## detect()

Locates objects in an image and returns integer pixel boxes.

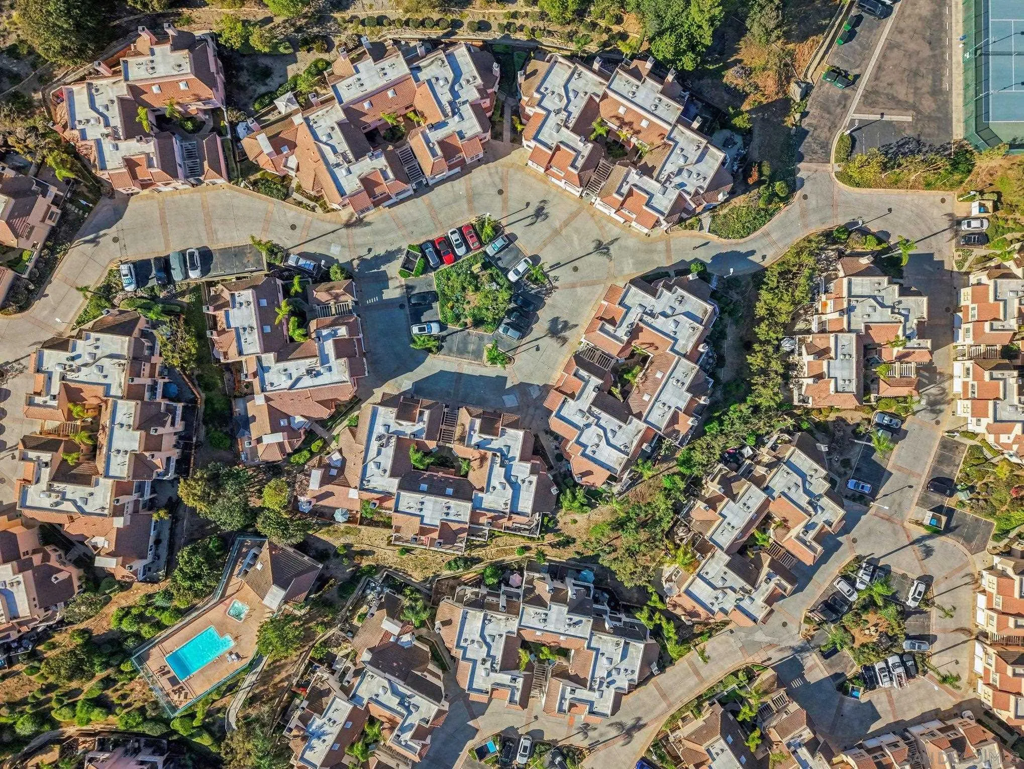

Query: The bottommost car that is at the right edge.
[955,700,979,726]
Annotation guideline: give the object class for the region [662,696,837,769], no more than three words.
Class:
building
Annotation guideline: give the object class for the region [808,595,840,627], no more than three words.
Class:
truck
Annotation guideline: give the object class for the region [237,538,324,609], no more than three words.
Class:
building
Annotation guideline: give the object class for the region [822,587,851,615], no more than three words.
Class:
car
